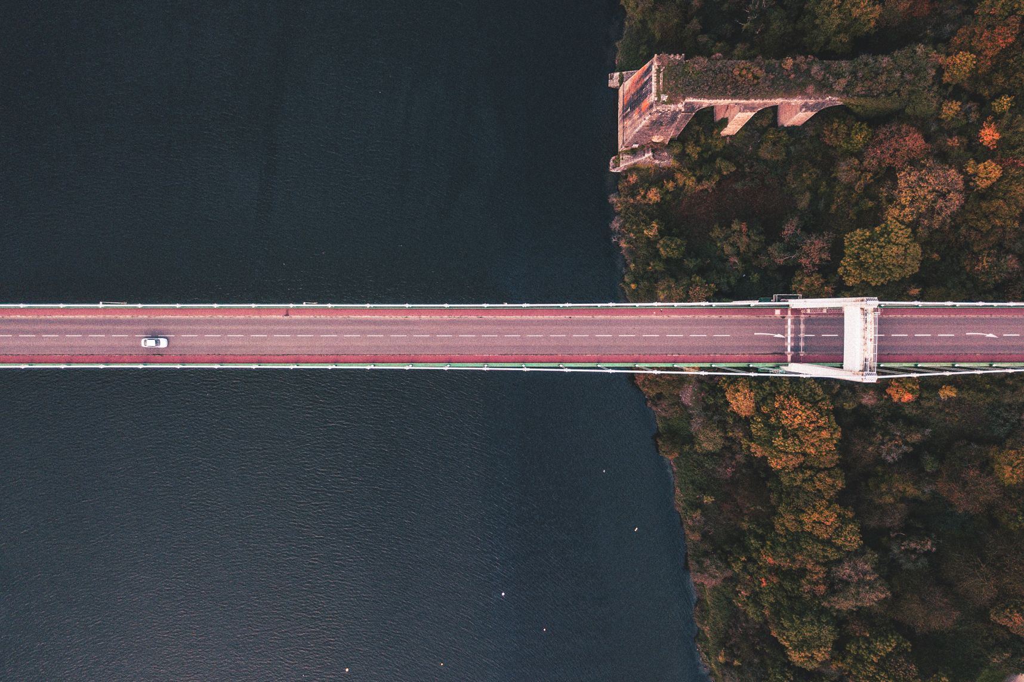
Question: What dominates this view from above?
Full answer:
What you mostly see from above here is water.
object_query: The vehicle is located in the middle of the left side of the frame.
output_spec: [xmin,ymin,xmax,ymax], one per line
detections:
[140,337,167,349]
